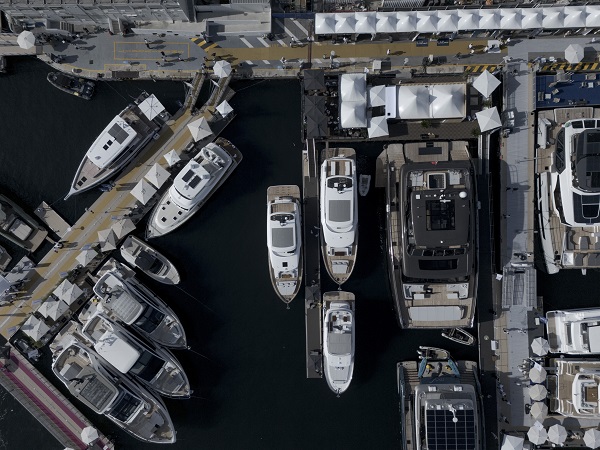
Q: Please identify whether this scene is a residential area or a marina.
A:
marina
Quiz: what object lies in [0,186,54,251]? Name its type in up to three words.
boat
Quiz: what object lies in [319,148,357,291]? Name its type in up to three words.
boat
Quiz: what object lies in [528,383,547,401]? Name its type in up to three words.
umbrella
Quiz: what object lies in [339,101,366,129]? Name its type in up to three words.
tent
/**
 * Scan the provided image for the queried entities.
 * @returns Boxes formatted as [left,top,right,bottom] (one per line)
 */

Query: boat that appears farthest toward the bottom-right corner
[546,361,600,418]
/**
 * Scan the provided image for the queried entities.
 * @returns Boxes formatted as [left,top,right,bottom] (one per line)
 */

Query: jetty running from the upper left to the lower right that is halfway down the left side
[35,201,72,238]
